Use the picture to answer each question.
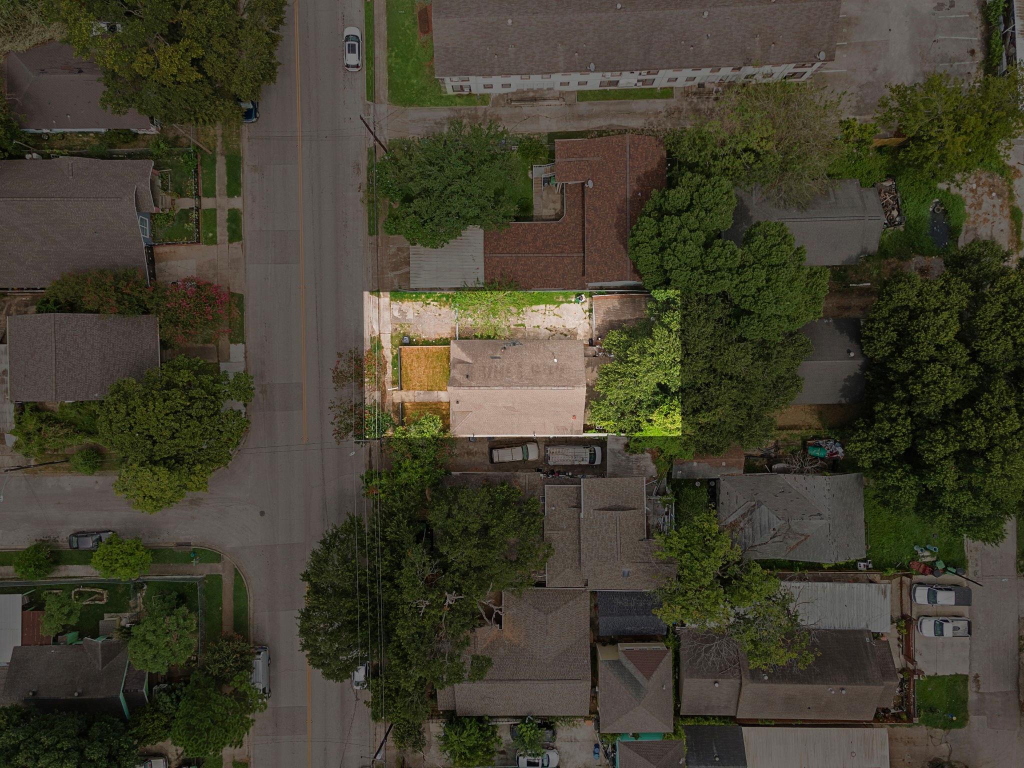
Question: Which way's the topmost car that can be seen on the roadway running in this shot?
up and down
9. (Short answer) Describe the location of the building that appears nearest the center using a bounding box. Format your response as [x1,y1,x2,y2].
[449,341,586,436]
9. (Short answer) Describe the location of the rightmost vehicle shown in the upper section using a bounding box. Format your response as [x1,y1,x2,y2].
[341,28,364,75]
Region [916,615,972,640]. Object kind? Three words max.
truck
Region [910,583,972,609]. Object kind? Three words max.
truck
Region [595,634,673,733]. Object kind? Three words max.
house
